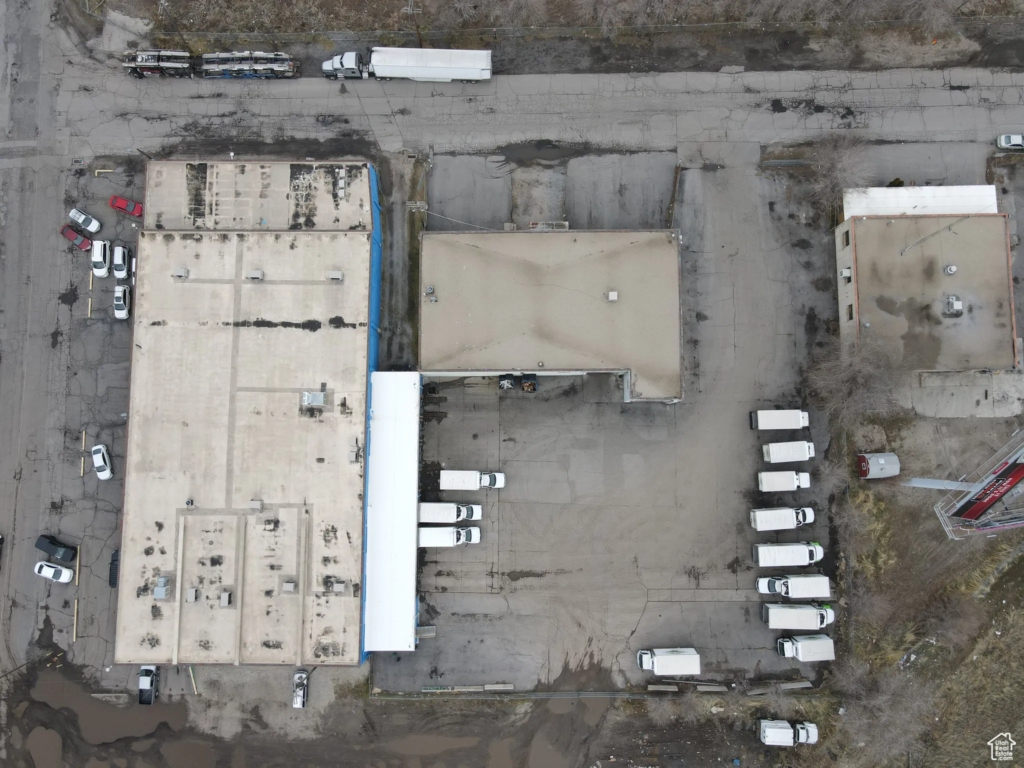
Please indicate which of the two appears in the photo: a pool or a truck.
truck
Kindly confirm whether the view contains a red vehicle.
Yes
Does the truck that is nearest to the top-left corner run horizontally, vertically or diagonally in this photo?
horizontally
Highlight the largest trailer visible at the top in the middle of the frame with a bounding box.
[372,48,492,84]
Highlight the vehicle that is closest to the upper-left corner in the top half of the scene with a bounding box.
[121,52,207,84]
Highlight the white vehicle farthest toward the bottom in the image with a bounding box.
[743,717,815,745]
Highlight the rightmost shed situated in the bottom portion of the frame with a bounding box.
[858,452,910,480]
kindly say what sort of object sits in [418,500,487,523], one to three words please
truck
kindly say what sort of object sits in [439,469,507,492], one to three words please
truck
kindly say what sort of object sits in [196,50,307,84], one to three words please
trailer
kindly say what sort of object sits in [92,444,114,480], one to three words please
car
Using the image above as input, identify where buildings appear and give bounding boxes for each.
[419,230,683,407]
[115,181,381,665]
[836,214,1018,375]
[858,452,910,480]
